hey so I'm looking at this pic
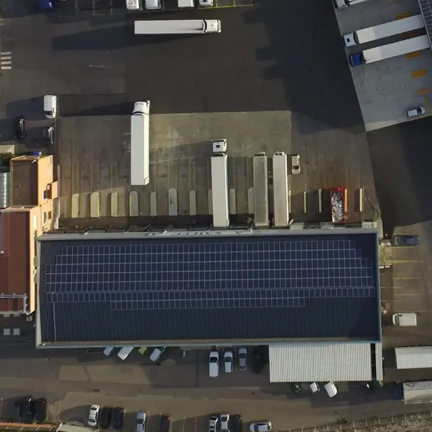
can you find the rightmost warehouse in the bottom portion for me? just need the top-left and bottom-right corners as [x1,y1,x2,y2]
[36,212,381,348]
